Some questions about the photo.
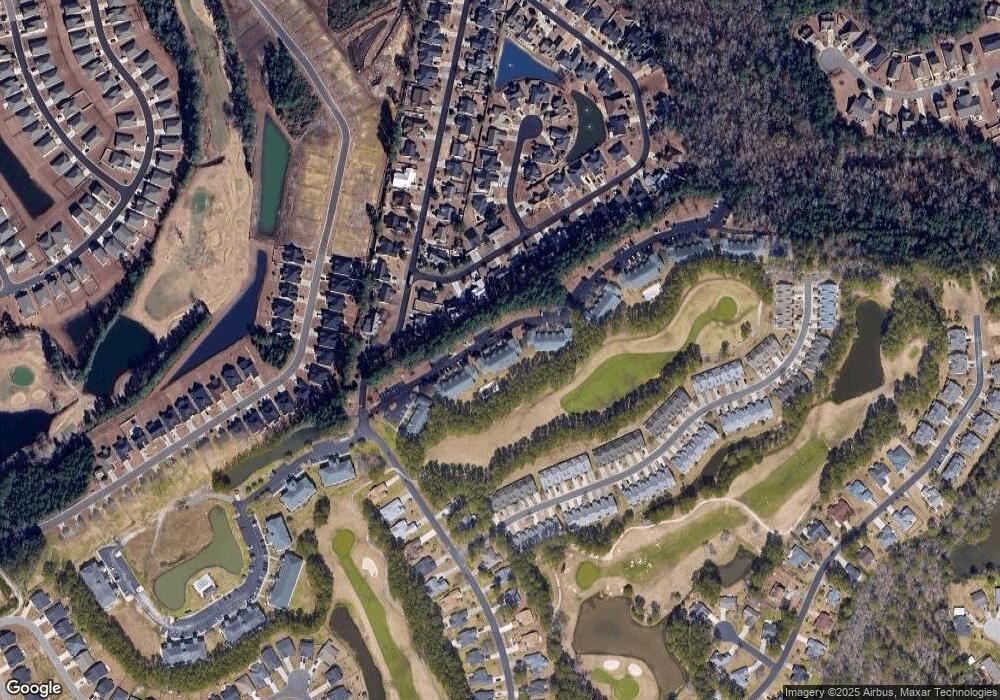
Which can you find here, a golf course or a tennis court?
golf course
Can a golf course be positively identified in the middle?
Yes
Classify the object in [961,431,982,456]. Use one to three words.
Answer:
house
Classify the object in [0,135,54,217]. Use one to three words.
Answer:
pond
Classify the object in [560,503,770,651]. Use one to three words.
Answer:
golf course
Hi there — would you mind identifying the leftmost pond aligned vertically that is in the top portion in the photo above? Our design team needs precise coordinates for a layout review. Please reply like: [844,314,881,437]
[259,112,288,233]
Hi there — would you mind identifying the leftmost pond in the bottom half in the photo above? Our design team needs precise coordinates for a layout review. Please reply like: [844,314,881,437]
[0,411,53,464]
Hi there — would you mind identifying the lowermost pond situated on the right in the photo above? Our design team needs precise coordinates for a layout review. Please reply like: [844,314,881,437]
[574,597,688,700]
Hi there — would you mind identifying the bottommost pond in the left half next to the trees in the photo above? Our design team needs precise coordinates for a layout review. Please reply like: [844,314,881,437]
[331,605,384,700]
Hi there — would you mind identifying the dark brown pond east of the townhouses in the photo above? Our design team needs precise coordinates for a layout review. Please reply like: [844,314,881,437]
[832,301,884,402]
